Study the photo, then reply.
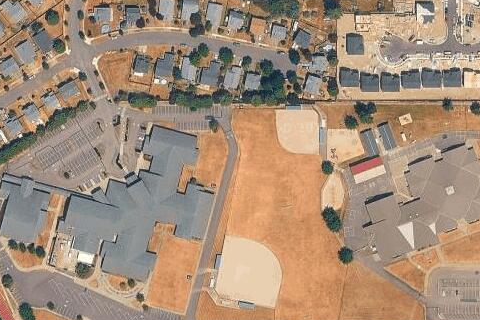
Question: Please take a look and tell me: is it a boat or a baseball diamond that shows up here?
baseball diamond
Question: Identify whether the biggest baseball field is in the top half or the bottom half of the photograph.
bottom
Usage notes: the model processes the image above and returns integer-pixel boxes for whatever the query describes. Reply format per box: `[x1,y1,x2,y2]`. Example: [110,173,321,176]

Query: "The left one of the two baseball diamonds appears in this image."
[210,236,282,308]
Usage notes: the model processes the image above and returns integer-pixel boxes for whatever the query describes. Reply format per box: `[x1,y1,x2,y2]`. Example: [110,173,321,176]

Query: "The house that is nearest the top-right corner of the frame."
[416,2,434,23]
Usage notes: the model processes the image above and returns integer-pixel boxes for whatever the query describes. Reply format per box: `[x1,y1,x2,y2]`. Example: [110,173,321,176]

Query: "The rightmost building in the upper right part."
[443,68,460,88]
